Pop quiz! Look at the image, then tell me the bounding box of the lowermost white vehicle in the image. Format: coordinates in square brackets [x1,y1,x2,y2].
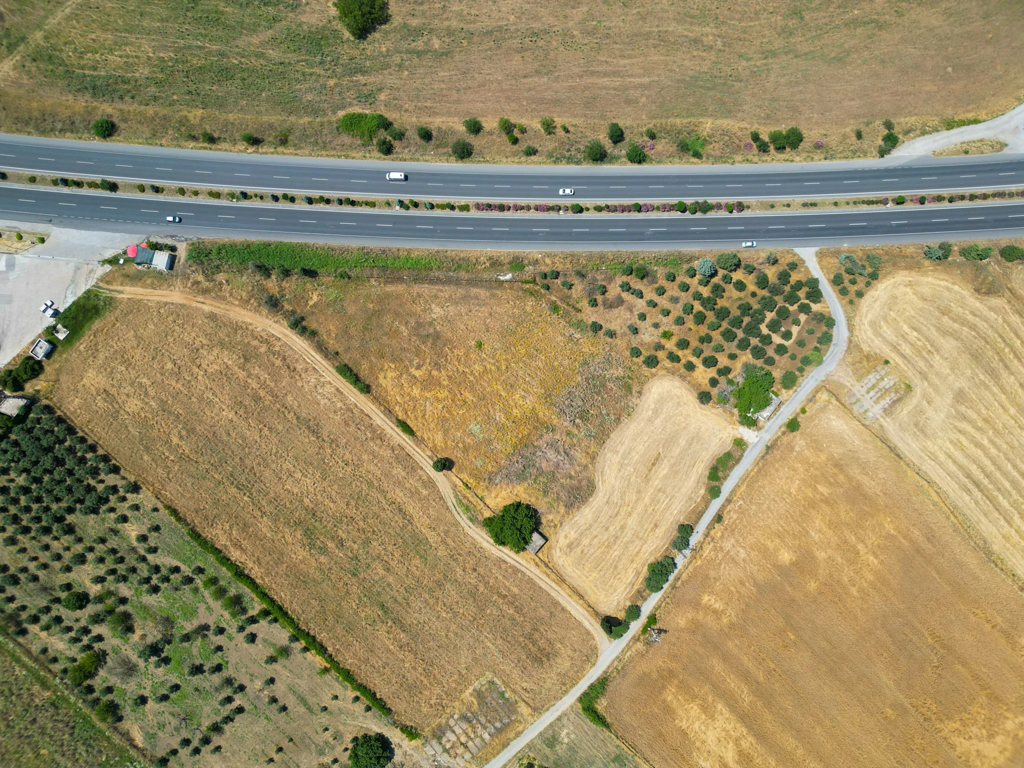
[37,300,55,313]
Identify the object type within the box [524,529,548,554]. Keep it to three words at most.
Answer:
shed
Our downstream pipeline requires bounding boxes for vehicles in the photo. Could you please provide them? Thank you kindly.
[387,173,406,181]
[166,216,182,223]
[37,300,55,313]
[559,189,574,195]
[742,241,756,248]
